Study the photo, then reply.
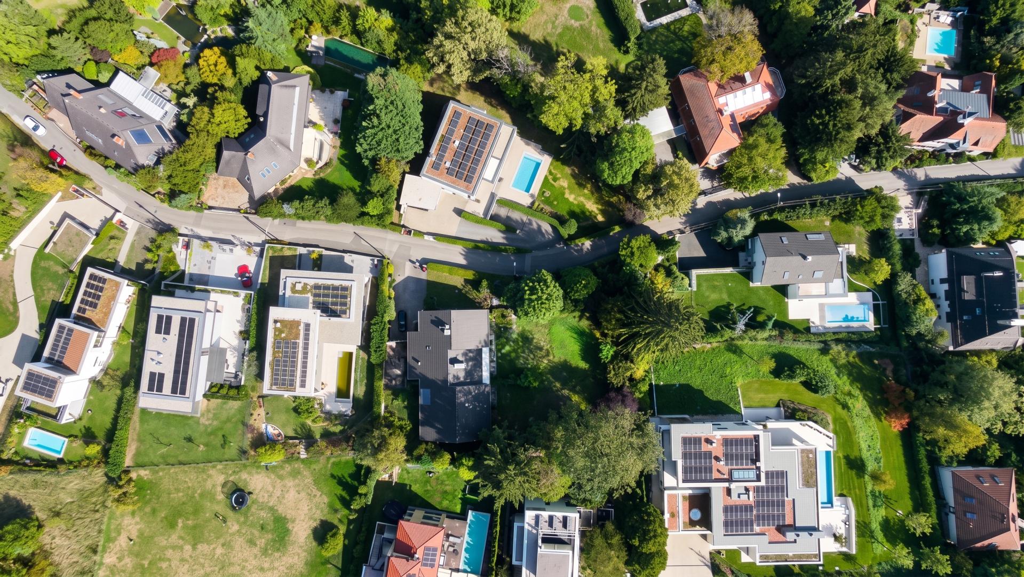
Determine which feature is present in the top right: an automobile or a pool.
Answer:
pool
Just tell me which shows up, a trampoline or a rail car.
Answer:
trampoline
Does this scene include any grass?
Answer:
Yes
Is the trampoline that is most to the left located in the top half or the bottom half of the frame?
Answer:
bottom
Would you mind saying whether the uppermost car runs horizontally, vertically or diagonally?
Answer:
diagonally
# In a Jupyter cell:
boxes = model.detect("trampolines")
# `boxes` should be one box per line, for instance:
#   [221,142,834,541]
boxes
[383,500,405,522]
[225,491,251,515]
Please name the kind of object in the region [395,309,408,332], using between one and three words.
vehicle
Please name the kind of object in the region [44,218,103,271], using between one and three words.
building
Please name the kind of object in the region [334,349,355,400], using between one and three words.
swimming pool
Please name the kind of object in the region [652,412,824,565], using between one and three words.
house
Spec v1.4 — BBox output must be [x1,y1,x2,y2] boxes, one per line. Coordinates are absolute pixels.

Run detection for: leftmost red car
[46,148,69,167]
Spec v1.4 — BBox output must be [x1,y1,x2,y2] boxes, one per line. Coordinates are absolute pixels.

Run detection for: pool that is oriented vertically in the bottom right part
[818,448,835,509]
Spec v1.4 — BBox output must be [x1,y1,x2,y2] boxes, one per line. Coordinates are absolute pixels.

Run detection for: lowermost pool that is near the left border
[23,426,70,459]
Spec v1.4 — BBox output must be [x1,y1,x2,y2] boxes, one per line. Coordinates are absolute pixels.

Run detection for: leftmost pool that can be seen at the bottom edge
[459,509,491,576]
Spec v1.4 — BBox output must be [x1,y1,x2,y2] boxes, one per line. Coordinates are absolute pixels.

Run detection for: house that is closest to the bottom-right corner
[937,464,1020,550]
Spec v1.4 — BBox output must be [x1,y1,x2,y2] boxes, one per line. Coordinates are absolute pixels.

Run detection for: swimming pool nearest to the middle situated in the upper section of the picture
[509,151,544,195]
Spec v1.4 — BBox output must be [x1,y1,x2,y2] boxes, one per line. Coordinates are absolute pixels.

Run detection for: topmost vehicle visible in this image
[22,114,48,138]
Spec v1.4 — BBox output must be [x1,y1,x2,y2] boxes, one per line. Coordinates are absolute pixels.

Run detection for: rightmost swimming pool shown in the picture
[924,24,959,59]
